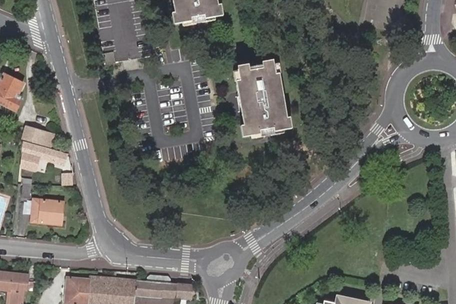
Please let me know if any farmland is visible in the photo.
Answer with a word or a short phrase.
No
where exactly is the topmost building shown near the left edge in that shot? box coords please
[0,72,26,112]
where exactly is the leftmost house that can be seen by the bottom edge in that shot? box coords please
[0,270,32,304]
